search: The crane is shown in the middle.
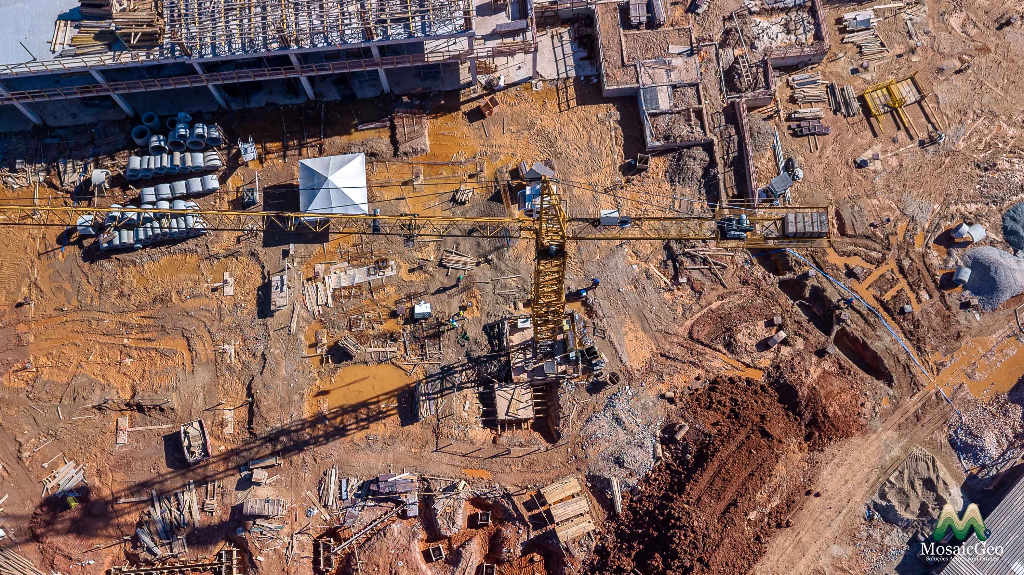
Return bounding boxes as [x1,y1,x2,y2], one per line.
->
[0,167,849,359]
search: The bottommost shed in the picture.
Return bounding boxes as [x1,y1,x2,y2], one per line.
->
[920,469,1024,575]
